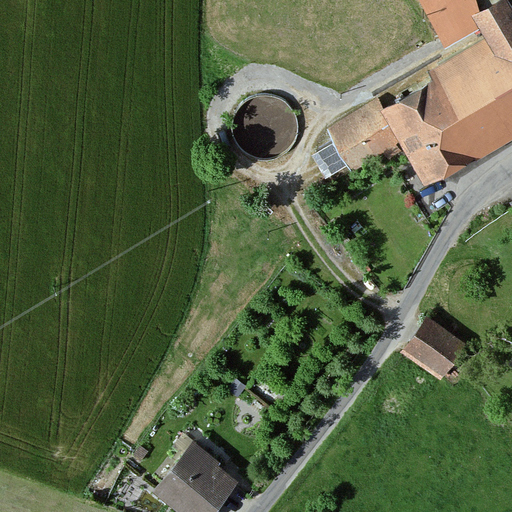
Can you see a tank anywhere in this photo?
Yes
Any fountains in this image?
No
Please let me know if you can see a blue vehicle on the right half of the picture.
Yes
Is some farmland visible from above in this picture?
Yes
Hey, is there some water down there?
No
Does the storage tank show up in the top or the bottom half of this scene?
top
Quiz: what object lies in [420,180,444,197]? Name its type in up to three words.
car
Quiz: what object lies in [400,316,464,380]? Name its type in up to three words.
barn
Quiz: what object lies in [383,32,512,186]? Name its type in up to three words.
house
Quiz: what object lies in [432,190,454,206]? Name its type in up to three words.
car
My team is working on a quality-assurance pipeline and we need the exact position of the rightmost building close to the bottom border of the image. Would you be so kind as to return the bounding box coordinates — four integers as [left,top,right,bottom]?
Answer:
[153,430,238,512]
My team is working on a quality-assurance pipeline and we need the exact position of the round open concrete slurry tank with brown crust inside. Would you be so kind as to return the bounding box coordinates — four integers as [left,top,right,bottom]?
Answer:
[232,92,299,161]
